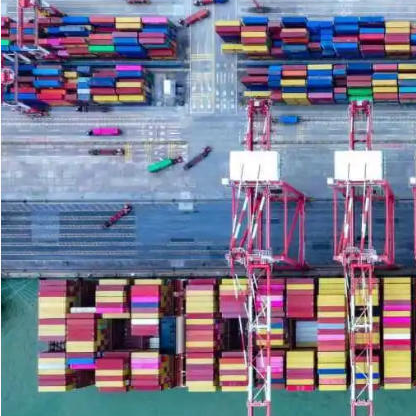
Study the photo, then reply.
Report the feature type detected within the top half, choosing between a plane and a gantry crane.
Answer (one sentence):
Visible within the top half is a gantry crane.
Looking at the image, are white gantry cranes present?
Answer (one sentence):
Yes, I can see a white gantry crane in this picture.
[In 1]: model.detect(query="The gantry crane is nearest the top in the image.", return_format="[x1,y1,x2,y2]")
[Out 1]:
[13,0,67,64]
